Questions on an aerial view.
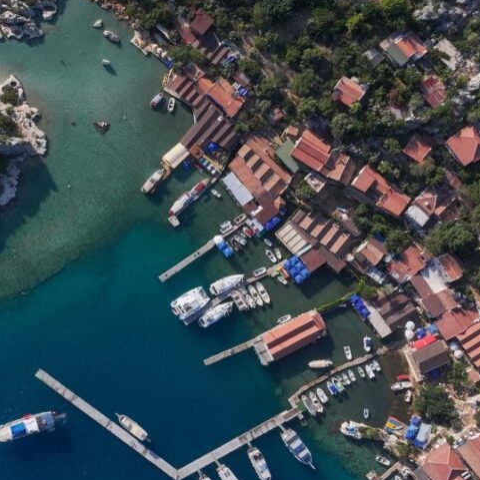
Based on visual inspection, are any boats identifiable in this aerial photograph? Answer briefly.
Yes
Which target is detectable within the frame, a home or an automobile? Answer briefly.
home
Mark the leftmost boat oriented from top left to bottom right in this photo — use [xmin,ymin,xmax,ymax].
[117,416,151,444]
